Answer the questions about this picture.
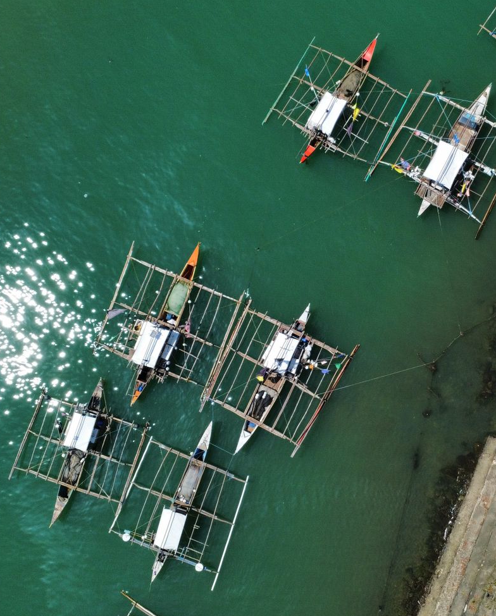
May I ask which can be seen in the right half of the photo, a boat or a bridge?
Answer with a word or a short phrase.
boat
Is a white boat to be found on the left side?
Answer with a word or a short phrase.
Yes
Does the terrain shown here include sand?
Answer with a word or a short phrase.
No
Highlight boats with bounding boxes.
[369,79,496,238]
[120,592,154,616]
[93,241,244,406]
[263,36,412,180]
[7,378,149,528]
[199,300,360,457]
[108,421,249,592]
